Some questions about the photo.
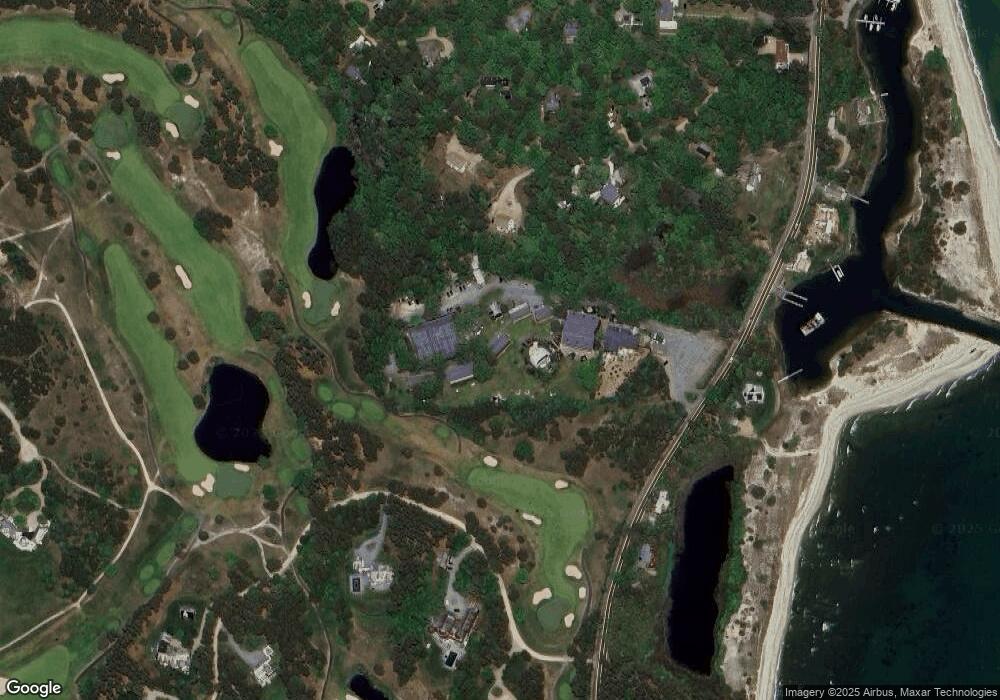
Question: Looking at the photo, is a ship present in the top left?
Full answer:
No, no ship can be made out in the top left.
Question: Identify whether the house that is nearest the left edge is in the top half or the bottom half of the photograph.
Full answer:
It is in the bottom half that the house that is nearest the left edge appears.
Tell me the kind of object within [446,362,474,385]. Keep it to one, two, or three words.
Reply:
building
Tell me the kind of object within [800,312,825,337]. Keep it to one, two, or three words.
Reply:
ship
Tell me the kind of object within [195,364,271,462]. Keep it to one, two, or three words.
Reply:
pond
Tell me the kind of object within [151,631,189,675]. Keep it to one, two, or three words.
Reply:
house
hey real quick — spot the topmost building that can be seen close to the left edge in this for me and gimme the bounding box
[0,512,50,554]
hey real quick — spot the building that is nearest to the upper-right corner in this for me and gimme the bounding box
[857,98,887,123]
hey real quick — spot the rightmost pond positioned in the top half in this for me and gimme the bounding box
[309,147,357,279]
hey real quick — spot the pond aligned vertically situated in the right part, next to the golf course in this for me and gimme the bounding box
[669,466,732,673]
